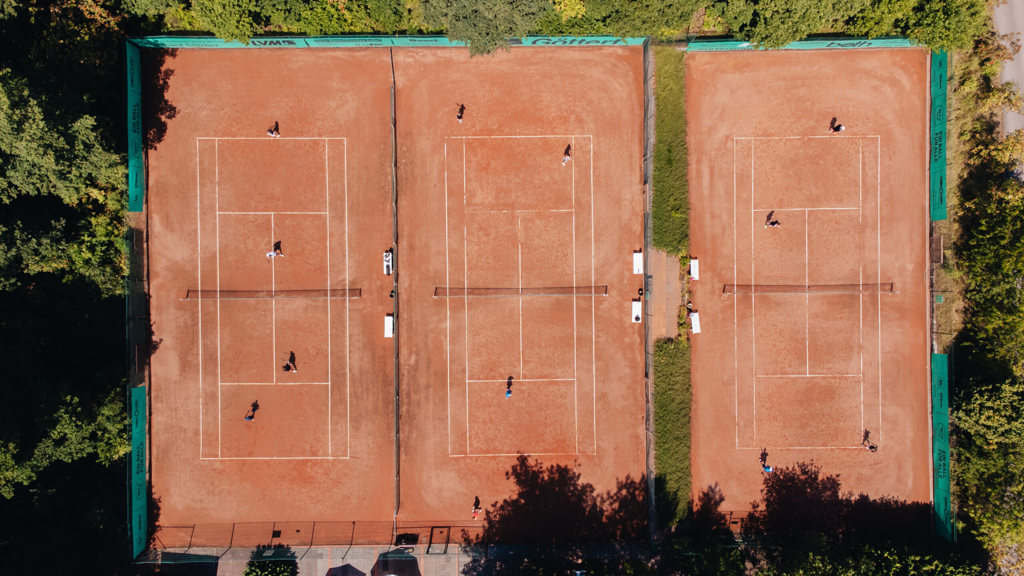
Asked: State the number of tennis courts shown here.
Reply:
3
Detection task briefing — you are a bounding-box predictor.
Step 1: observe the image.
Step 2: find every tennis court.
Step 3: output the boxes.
[394,46,648,545]
[687,50,931,537]
[148,47,397,547]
